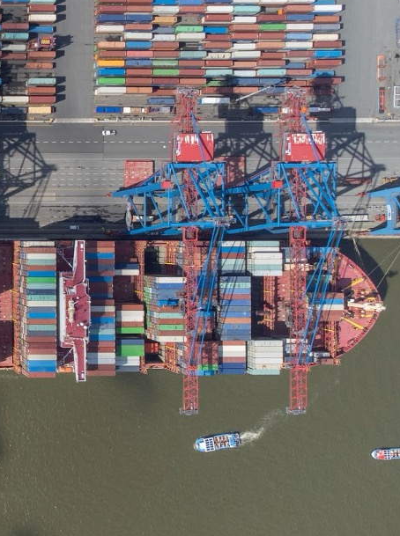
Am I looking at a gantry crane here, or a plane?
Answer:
gantry crane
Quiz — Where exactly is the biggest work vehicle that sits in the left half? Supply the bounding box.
[26,35,54,53]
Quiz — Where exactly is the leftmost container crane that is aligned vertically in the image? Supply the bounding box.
[108,84,235,413]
